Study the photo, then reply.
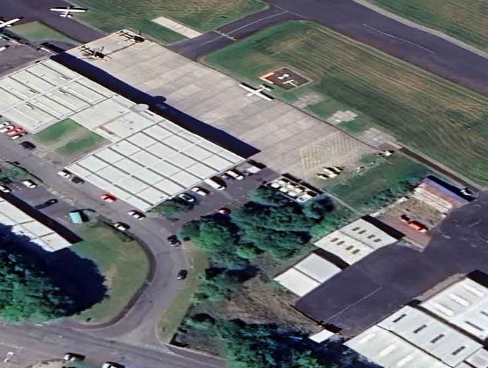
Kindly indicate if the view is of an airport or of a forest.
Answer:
airport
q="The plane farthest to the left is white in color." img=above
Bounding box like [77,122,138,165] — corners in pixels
[0,14,19,29]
